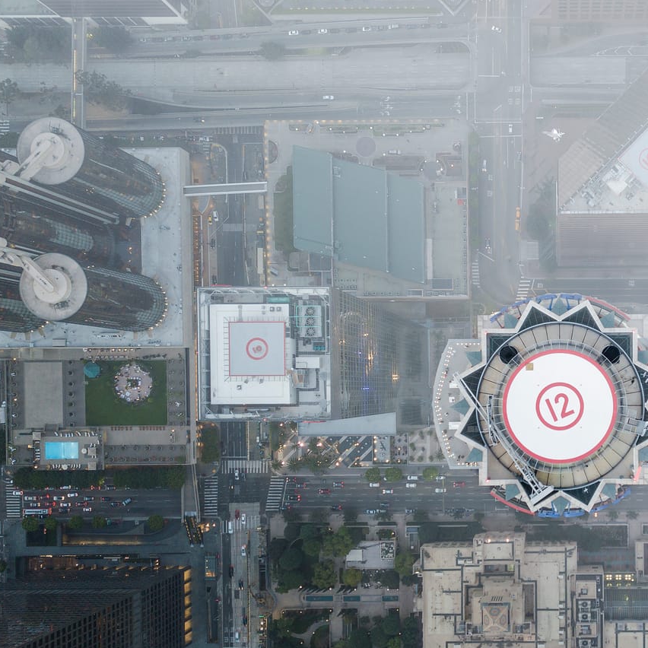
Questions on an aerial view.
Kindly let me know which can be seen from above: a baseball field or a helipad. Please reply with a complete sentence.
Of the two, only a helipad appears.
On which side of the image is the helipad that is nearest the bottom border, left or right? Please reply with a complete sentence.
The helipad that is nearest the bottom border is on the right side of the image.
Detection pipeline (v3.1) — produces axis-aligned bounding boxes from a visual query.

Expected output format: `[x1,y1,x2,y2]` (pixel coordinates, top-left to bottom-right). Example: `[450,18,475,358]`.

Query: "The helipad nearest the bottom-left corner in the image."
[225,319,289,380]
